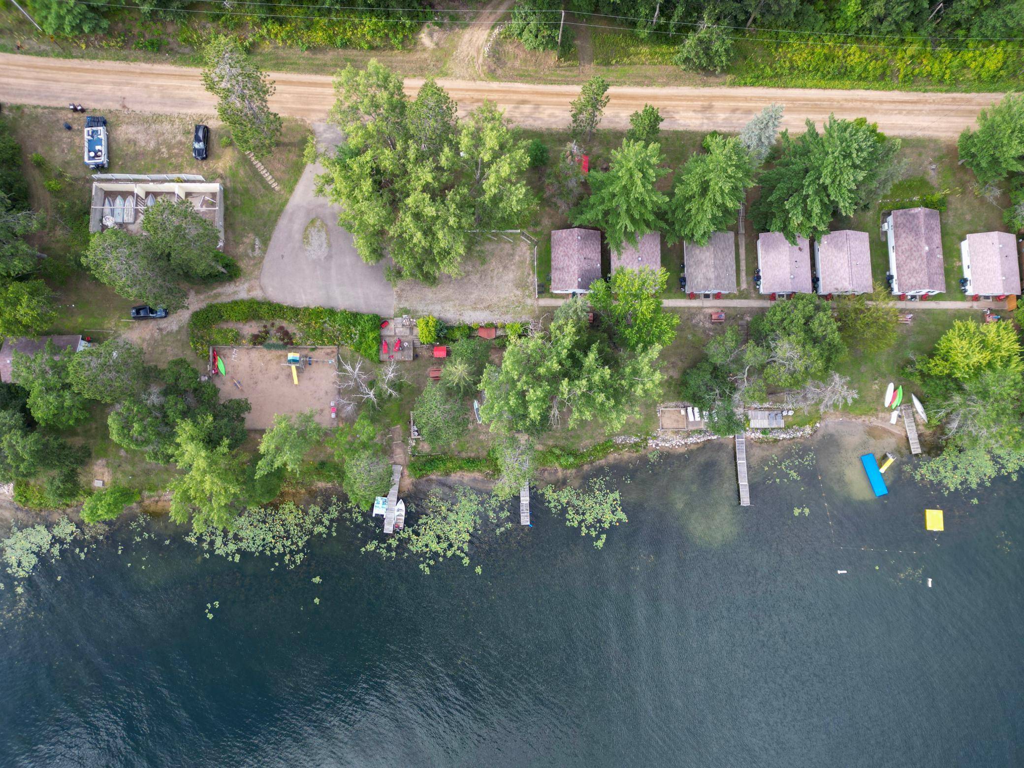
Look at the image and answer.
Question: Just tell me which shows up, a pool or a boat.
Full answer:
The one in the frame is a boat.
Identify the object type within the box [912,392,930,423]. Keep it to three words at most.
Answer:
boat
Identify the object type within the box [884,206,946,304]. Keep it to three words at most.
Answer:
house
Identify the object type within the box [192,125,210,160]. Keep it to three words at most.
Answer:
car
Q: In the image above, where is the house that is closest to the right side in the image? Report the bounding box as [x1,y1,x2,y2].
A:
[959,230,1021,304]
